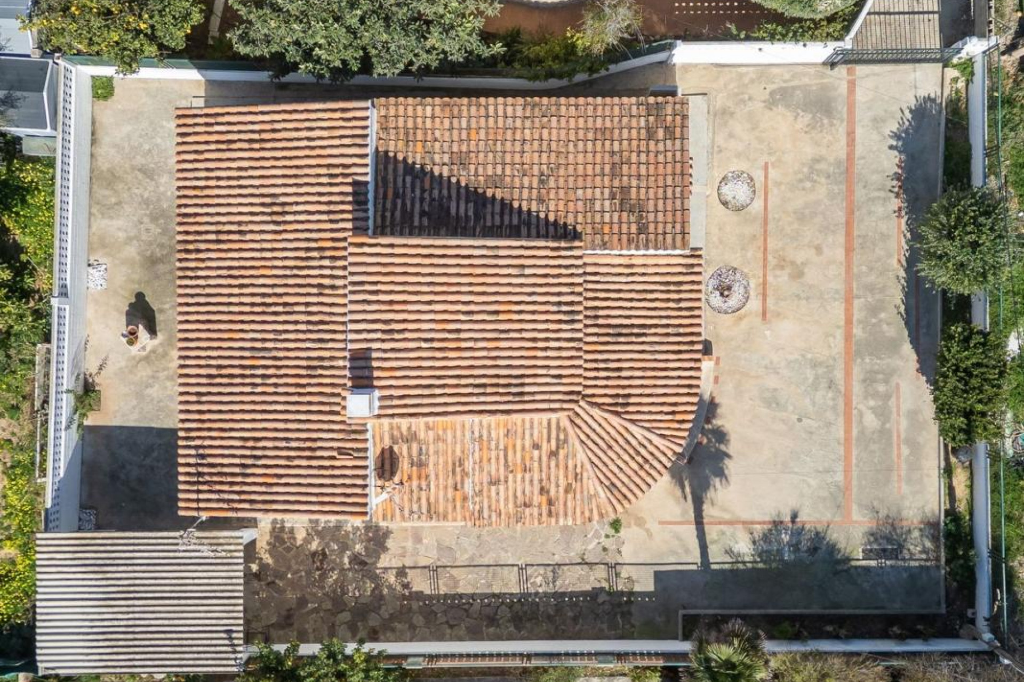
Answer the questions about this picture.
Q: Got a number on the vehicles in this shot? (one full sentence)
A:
No vehicles are visible.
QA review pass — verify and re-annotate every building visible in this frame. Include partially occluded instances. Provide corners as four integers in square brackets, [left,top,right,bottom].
[35,531,245,674]
[0,55,59,141]
[172,87,706,528]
